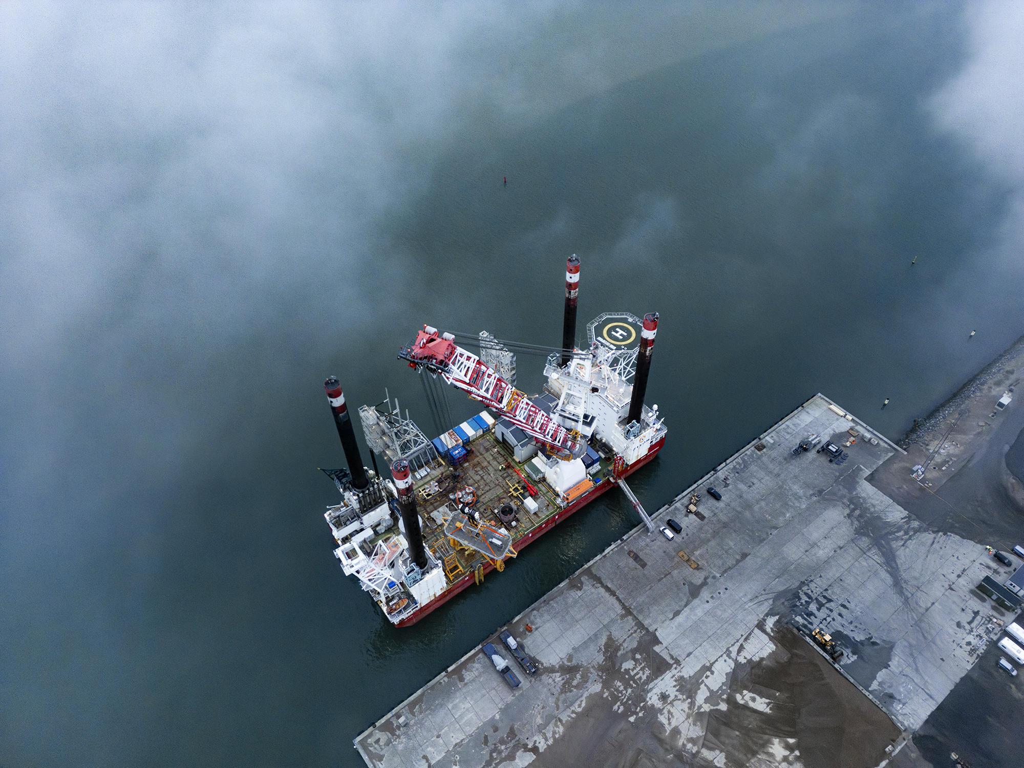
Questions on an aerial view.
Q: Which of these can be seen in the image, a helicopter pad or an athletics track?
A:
helicopter pad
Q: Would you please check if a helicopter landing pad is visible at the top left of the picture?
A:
No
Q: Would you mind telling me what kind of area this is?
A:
port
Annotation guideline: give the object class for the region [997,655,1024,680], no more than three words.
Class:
vehicle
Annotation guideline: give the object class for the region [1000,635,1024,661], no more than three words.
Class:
camper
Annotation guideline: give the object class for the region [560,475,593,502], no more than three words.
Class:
boat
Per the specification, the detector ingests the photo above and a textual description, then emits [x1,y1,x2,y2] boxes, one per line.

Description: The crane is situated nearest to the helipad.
[398,317,607,519]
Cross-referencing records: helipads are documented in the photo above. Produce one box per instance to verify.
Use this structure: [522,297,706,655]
[587,311,645,379]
